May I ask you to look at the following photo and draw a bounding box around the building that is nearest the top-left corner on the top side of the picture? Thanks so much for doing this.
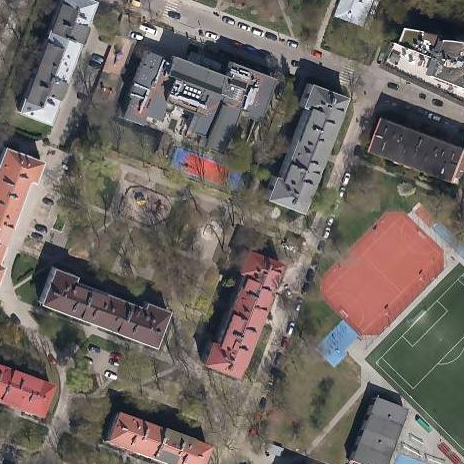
[21,0,101,124]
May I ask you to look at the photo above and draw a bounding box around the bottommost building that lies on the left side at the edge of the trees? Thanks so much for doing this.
[107,411,216,464]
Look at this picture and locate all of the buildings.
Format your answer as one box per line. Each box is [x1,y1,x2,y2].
[206,250,288,381]
[335,0,375,27]
[0,364,59,418]
[370,117,464,184]
[40,265,175,350]
[21,0,101,124]
[0,147,49,288]
[387,28,464,97]
[354,396,410,464]
[107,411,216,464]
[269,84,352,215]
[124,49,279,152]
